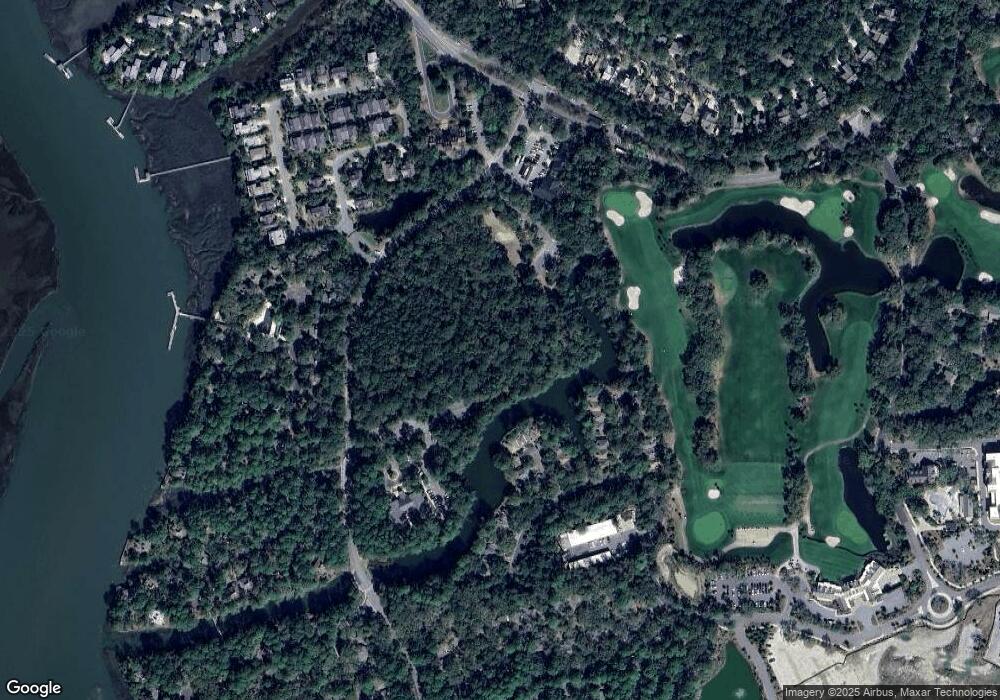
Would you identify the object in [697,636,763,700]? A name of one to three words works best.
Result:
pond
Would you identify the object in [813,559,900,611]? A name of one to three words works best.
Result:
building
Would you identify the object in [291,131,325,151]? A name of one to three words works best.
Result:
house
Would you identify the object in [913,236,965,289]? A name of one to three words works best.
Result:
pond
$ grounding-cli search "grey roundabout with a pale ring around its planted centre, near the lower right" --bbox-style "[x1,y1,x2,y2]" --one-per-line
[921,585,960,624]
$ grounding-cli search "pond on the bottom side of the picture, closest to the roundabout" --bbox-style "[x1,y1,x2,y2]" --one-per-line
[839,447,888,551]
